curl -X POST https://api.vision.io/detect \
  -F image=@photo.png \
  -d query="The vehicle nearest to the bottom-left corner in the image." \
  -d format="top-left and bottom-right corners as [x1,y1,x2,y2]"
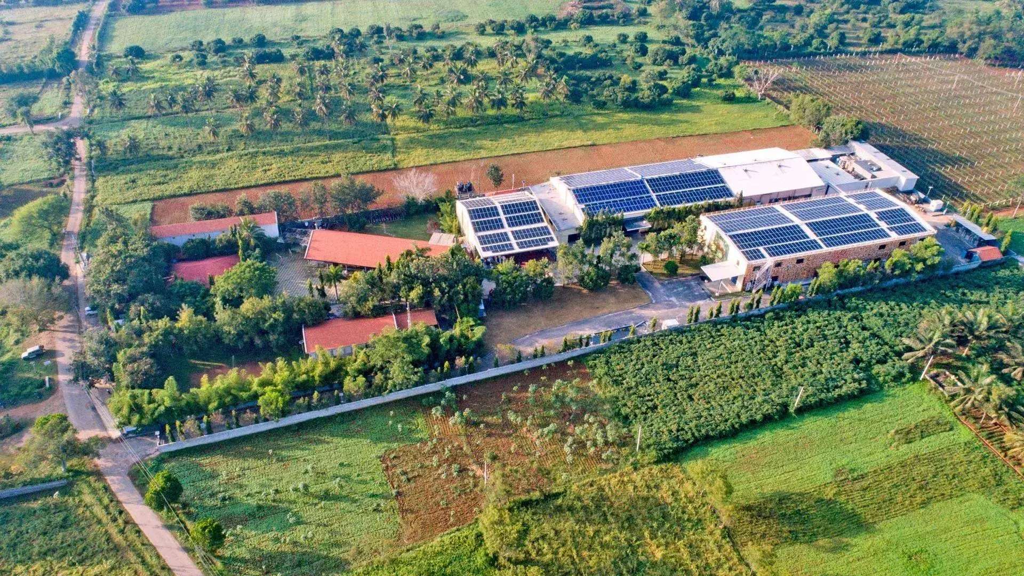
[19,342,48,359]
